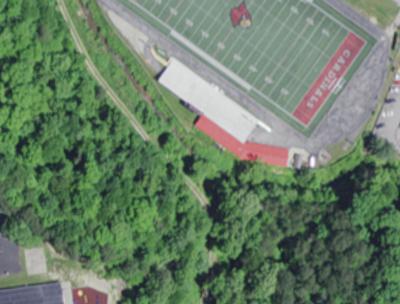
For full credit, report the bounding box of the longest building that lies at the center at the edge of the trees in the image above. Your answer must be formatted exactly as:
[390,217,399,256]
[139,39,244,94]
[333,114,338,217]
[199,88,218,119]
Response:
[196,114,288,166]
